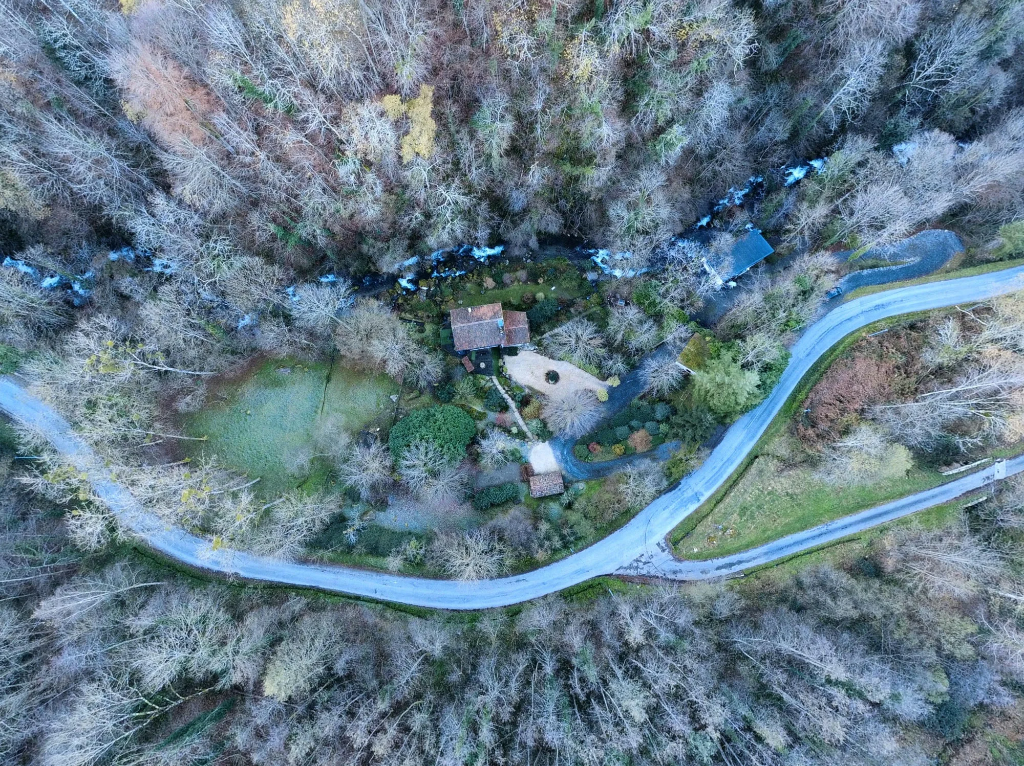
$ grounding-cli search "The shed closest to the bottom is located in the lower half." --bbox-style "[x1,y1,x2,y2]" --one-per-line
[529,471,564,498]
